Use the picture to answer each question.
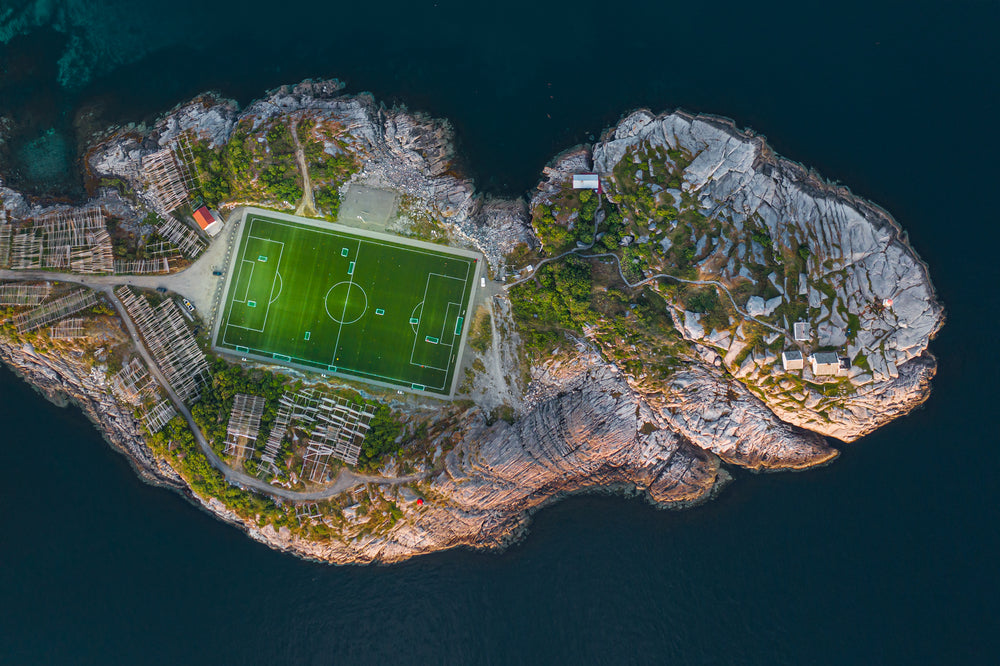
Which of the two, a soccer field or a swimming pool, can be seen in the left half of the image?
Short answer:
soccer field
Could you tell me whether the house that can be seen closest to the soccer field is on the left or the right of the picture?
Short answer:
left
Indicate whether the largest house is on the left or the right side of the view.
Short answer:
right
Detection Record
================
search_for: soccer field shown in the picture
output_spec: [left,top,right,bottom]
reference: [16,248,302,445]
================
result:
[212,207,483,399]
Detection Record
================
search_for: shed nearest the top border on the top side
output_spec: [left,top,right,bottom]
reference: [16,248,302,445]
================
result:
[573,175,602,194]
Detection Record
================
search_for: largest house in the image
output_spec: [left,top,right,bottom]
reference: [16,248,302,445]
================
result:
[808,353,850,375]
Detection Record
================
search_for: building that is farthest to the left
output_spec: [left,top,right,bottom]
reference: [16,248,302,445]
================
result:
[194,207,218,229]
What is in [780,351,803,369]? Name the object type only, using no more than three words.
house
